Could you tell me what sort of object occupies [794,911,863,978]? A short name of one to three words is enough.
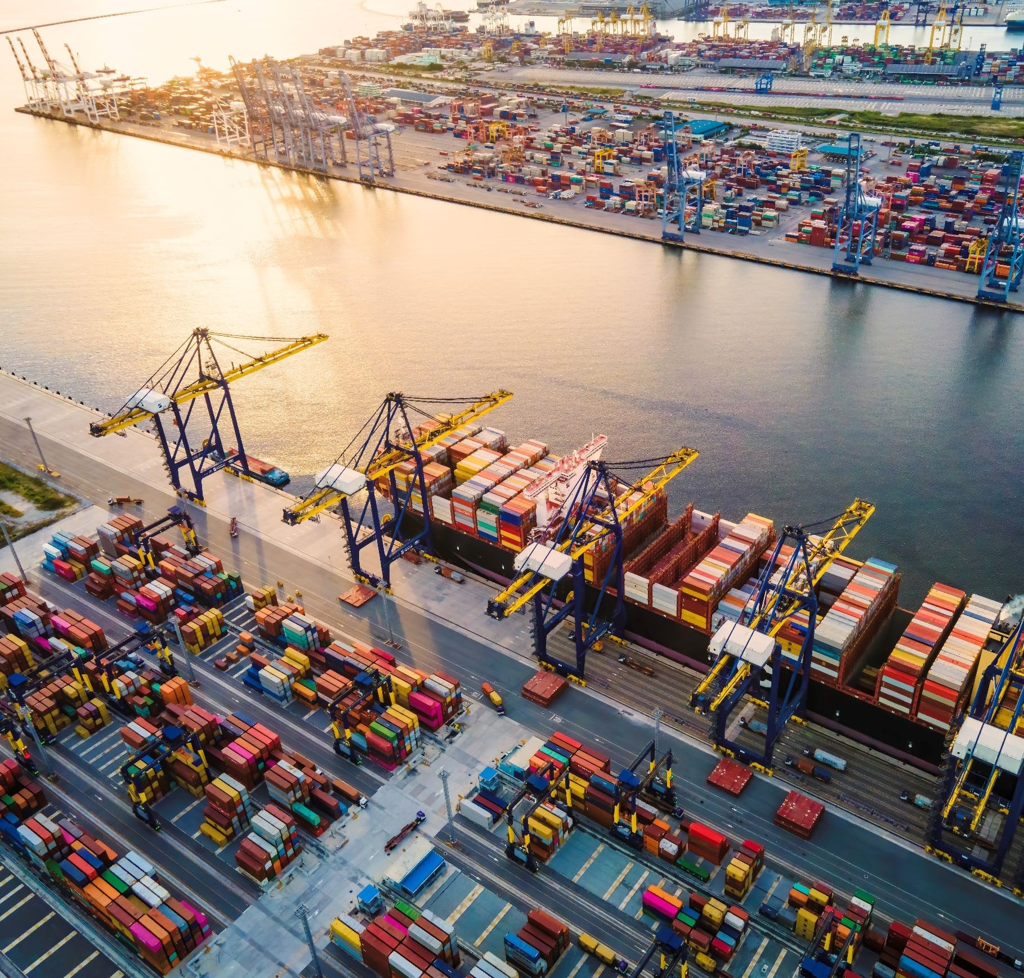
container crane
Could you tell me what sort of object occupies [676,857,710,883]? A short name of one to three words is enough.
shipping container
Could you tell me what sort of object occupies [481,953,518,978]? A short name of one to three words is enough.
shipping container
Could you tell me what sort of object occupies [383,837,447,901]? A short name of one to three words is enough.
building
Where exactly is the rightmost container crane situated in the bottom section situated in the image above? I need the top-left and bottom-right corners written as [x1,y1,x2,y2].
[922,630,1024,882]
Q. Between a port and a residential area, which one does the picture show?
port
